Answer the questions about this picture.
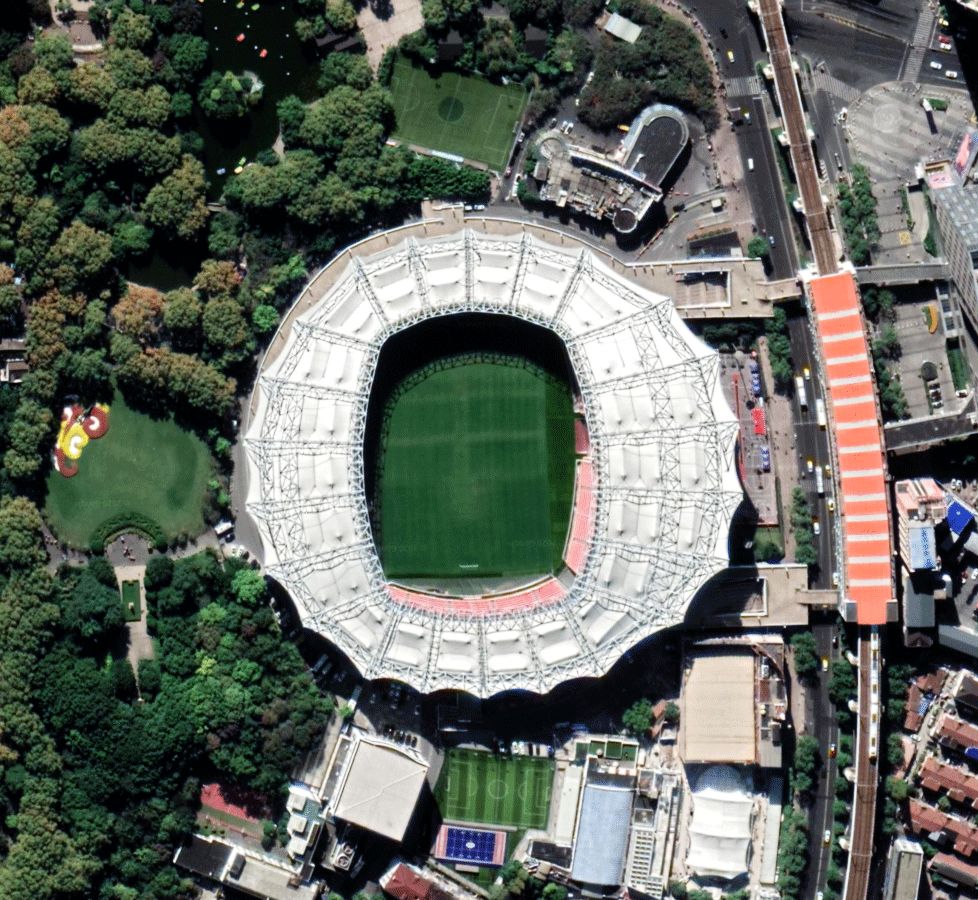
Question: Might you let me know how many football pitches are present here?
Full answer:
My tally gives 3 football pitches in this view.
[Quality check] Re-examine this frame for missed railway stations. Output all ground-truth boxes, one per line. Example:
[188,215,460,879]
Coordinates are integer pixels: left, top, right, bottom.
[797,257,898,624]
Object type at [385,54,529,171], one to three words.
soccer field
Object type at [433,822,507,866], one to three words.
sports court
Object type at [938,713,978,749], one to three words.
house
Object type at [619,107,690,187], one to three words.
building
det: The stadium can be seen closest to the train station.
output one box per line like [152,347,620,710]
[244,228,743,698]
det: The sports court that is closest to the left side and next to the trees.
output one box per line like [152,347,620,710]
[198,782,280,841]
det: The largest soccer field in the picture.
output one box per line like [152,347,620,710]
[366,335,577,578]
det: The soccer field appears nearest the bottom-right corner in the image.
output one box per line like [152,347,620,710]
[428,749,555,832]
